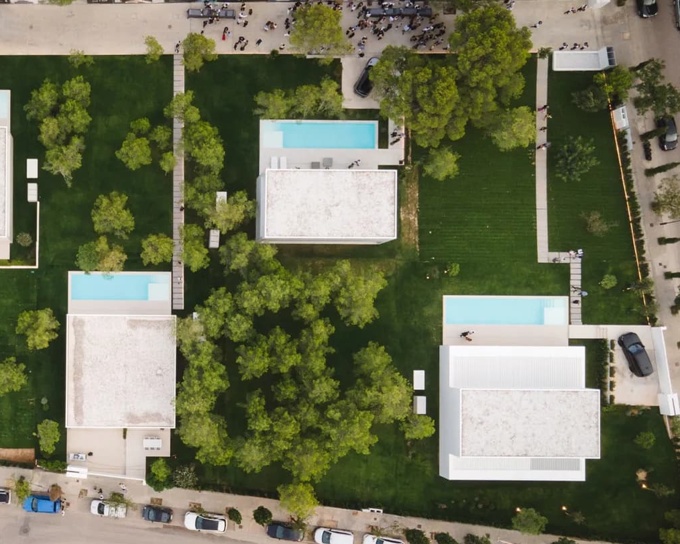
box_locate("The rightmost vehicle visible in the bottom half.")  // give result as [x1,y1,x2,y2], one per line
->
[618,331,652,378]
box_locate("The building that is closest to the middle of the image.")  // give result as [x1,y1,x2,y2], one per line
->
[255,170,397,244]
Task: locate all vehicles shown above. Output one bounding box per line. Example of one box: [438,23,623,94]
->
[141,504,173,522]
[23,494,62,512]
[0,487,13,503]
[618,331,652,378]
[313,526,354,544]
[90,498,127,517]
[361,532,405,544]
[265,521,304,540]
[635,0,657,19]
[183,509,227,531]
[352,58,381,101]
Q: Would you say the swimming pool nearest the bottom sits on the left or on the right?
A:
right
